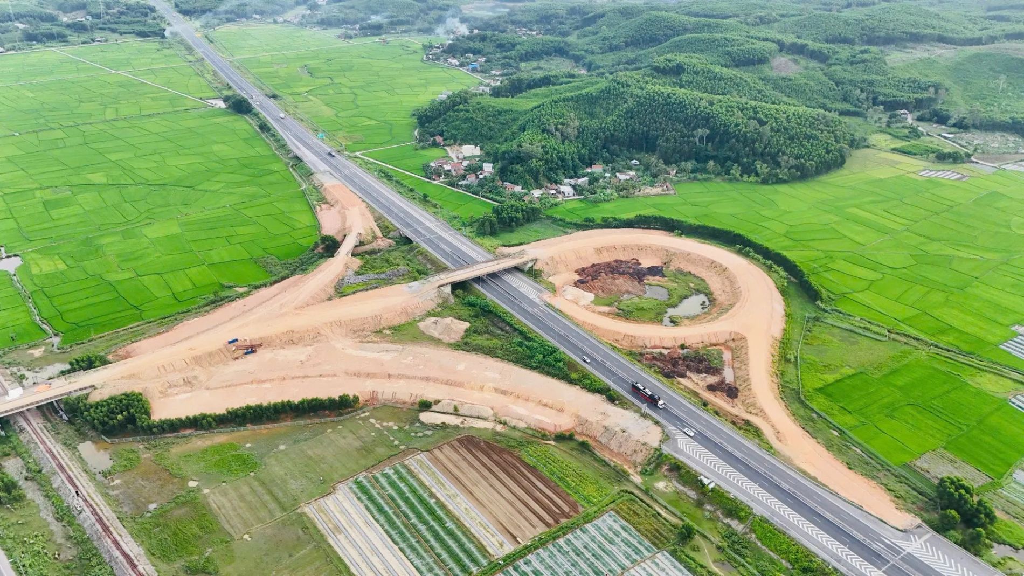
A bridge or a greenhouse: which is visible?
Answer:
bridge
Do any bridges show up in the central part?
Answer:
Yes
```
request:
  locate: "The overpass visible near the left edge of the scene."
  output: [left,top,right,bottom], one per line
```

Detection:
[0,369,98,424]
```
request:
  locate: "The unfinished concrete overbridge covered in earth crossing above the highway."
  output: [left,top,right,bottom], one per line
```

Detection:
[425,248,543,288]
